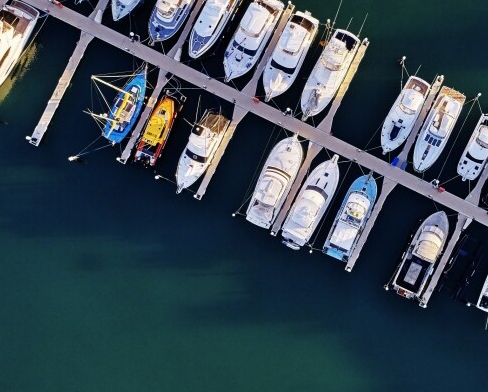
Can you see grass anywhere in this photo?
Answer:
No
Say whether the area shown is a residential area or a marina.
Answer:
marina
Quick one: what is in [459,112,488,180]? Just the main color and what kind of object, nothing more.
white boat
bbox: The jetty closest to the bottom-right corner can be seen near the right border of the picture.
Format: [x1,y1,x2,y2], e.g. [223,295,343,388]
[420,212,472,310]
